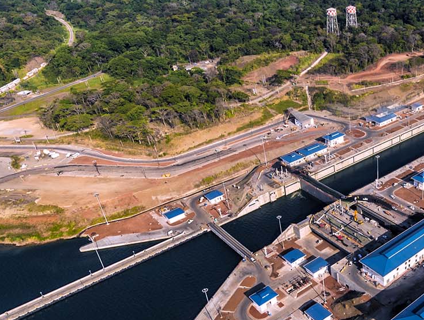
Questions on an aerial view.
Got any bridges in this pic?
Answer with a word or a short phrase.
Yes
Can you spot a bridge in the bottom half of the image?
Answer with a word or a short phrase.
Yes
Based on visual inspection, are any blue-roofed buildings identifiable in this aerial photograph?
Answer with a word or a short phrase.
Yes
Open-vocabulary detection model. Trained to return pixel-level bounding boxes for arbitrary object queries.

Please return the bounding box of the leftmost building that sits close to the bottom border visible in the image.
[249,285,279,312]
